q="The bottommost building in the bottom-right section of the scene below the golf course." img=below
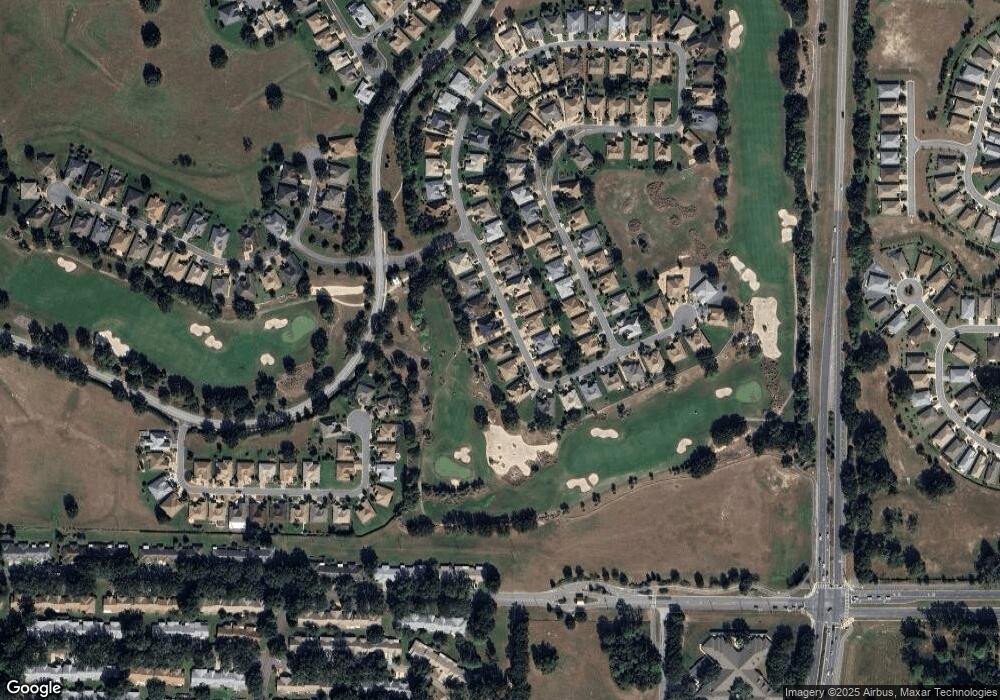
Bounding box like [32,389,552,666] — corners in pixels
[692,630,778,700]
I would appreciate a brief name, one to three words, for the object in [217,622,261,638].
building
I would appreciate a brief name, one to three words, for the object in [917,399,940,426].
house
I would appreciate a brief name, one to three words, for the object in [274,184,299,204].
house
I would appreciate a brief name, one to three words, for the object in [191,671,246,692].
building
